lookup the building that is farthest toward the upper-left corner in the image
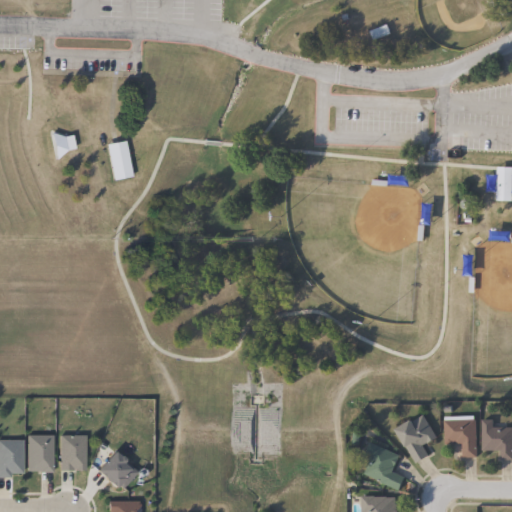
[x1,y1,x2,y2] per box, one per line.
[52,132,77,159]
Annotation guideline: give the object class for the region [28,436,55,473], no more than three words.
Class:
house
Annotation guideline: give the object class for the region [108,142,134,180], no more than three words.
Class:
barn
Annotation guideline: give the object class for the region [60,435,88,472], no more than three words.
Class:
house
